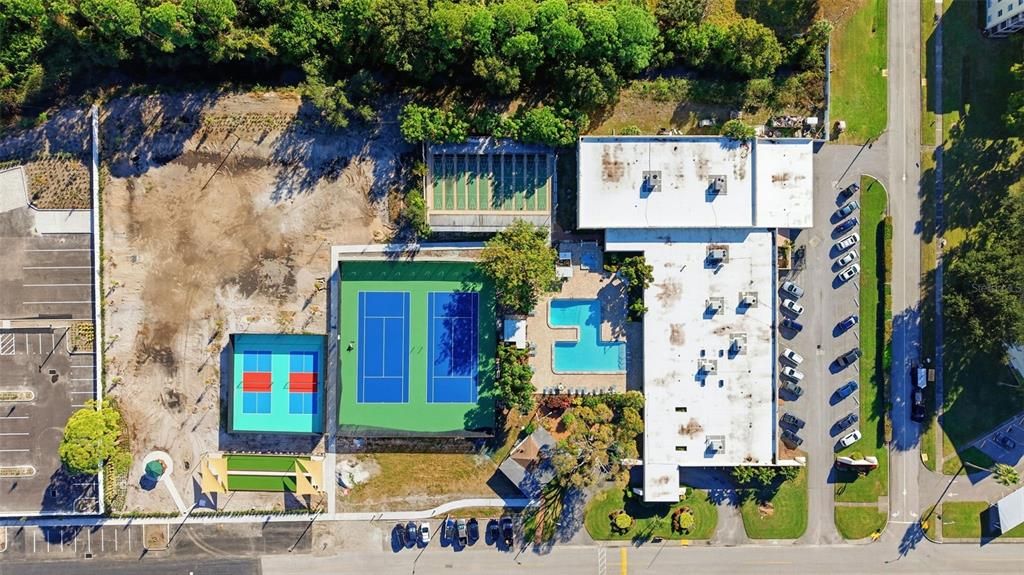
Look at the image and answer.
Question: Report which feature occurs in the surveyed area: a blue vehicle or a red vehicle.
blue vehicle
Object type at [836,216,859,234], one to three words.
car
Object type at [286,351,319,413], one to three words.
sports court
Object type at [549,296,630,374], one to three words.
swimming pool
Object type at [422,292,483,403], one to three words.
tennis court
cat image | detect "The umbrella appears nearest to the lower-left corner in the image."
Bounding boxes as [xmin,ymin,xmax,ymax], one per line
[148,456,166,475]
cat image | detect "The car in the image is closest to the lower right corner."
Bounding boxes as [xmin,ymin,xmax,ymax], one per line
[992,433,1015,450]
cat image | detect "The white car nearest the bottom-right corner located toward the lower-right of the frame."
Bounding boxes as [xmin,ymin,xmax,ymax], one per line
[840,430,861,447]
